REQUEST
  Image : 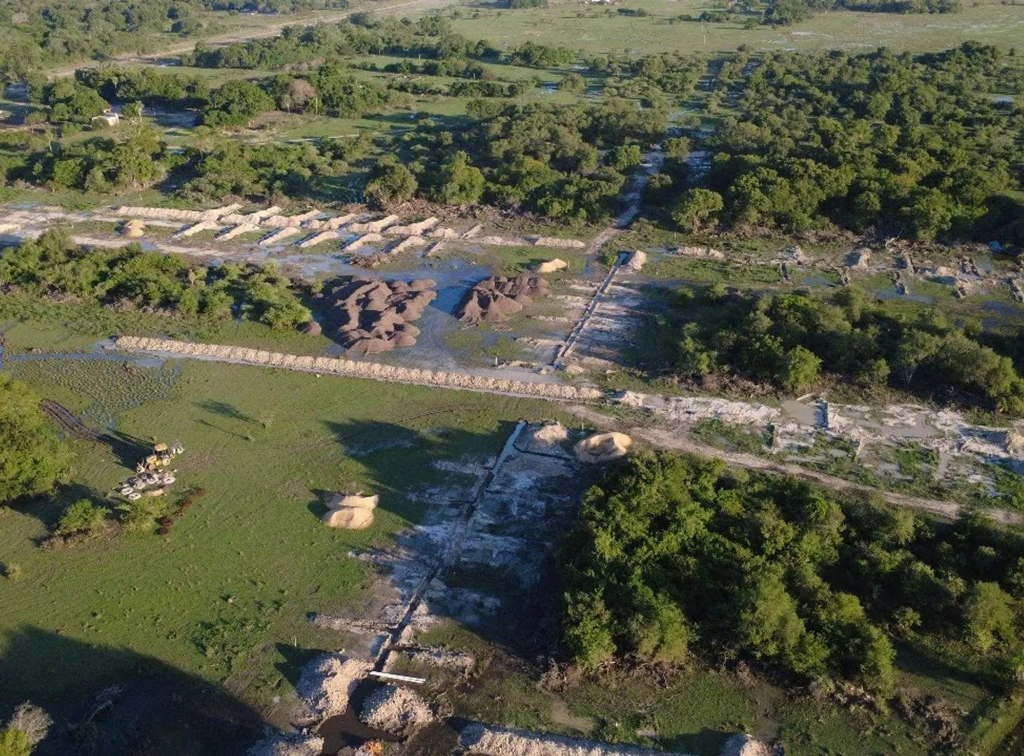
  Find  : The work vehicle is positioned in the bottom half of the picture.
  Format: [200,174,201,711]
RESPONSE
[135,444,184,474]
